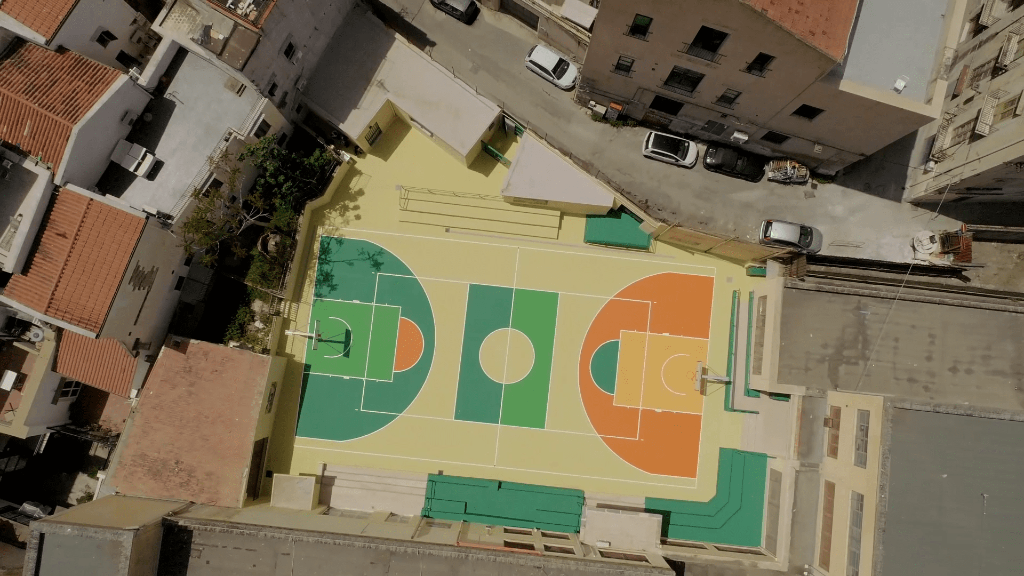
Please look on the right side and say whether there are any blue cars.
No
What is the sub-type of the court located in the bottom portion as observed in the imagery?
basketball court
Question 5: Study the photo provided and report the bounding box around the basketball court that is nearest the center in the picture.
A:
[294,226,716,488]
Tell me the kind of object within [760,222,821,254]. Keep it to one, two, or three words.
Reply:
car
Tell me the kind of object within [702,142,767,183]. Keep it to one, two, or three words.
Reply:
car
